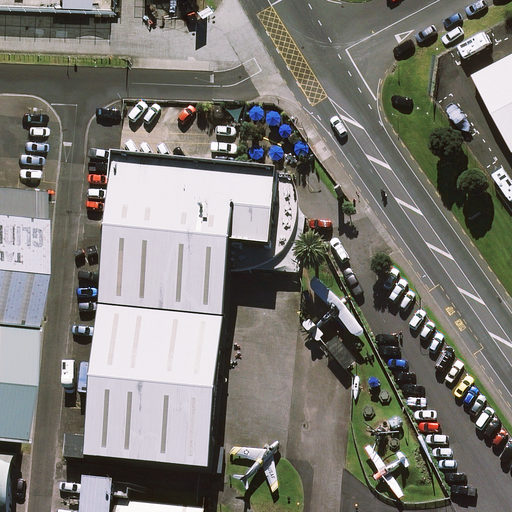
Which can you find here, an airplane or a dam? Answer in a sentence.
It is an airplane that can be seen here.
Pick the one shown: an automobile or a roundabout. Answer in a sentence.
This aerial view contains an automobile.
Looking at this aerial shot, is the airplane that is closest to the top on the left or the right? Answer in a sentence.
The airplane that is closest to the top sits on the right side.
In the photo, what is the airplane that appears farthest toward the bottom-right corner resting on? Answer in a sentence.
The airplane that appears farthest toward the bottom-right corner rests on the grass.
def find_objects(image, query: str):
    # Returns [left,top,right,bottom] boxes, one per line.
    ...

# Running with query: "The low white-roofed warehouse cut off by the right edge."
[471,54,512,150]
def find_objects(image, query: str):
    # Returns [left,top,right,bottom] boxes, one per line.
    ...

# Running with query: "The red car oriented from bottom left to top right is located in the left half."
[177,104,196,124]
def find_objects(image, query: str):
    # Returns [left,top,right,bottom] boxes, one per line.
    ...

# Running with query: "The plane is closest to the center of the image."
[303,277,363,340]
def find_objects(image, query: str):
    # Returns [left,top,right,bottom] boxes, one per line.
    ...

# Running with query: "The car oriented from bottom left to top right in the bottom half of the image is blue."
[464,384,481,405]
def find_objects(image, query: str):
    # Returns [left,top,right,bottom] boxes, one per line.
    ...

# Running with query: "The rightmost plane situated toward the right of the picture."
[365,445,409,498]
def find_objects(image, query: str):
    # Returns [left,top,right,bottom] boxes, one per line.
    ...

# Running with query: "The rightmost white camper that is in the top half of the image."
[491,171,512,208]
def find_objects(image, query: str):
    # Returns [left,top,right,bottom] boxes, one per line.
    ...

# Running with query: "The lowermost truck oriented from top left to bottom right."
[342,268,364,295]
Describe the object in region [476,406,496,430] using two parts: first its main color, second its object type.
white vehicle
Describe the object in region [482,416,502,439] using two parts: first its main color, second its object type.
black car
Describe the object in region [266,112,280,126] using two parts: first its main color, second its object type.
blue umbrella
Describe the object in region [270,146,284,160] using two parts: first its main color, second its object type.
blue umbrella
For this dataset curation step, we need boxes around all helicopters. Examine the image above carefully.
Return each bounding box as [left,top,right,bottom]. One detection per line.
[365,417,401,450]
